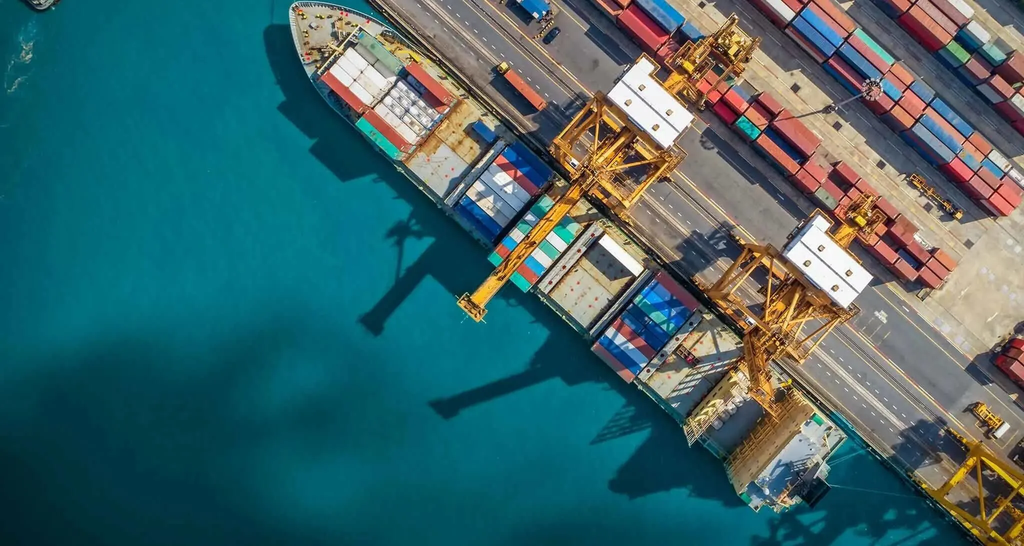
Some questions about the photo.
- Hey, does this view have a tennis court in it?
No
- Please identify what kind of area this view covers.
port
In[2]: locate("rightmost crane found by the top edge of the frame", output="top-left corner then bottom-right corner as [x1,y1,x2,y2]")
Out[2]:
[680,11,763,116]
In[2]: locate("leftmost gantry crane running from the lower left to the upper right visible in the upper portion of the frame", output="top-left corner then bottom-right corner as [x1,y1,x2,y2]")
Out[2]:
[448,34,719,333]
